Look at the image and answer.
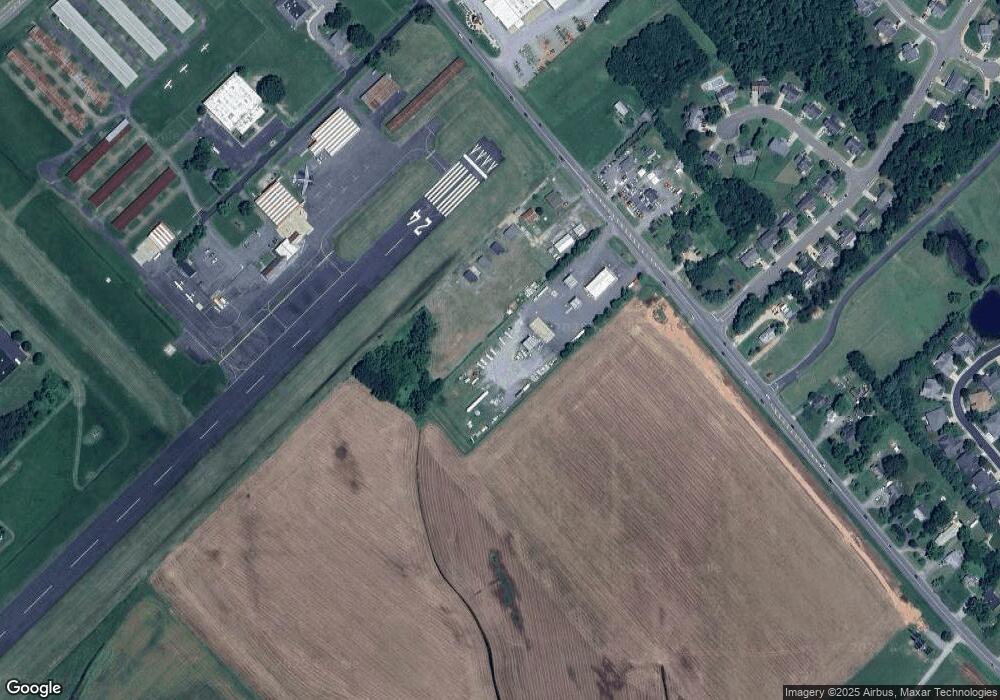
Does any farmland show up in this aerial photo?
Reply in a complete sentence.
Yes, farmland shows up in the scene.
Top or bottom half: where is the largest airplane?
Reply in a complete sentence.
The top half of the photo is where the largest airplane is.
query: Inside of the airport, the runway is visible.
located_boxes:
[0,142,505,659]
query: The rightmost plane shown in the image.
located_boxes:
[293,165,312,195]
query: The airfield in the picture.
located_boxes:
[0,69,505,659]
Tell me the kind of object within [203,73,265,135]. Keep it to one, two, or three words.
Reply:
building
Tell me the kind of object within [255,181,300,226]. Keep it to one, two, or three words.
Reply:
hangar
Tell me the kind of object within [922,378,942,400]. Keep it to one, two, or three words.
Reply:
house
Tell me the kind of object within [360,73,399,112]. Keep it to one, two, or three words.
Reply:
hangar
